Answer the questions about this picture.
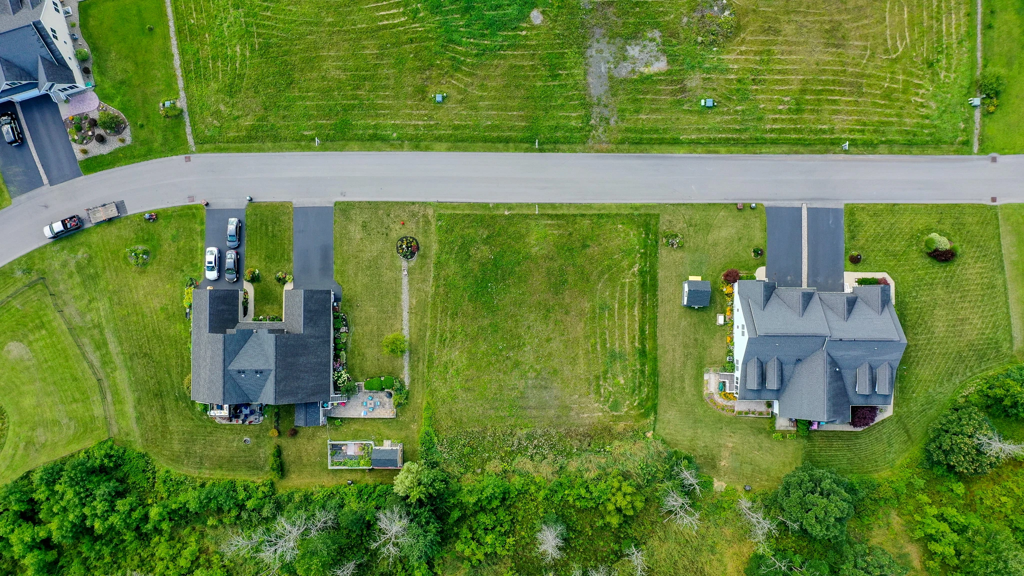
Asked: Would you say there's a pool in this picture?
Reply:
No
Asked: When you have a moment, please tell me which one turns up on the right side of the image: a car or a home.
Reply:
home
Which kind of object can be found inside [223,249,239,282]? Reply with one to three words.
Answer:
car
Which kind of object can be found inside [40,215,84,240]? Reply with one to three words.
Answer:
truck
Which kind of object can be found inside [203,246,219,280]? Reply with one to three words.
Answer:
car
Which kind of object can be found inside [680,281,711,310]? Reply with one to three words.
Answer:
shed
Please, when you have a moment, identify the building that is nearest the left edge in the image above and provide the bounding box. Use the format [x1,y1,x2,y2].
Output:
[0,0,86,121]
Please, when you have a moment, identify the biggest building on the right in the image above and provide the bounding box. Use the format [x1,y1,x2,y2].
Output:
[734,280,907,422]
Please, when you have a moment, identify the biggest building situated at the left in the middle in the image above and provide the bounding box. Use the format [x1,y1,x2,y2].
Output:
[191,289,333,405]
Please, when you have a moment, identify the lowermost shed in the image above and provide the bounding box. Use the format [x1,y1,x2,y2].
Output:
[369,443,403,469]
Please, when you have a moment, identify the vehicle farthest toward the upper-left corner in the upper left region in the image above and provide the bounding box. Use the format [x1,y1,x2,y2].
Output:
[0,110,22,145]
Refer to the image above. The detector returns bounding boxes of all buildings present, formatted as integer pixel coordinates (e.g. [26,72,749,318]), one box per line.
[191,289,333,405]
[0,0,86,121]
[680,281,711,310]
[369,443,403,469]
[734,280,907,422]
